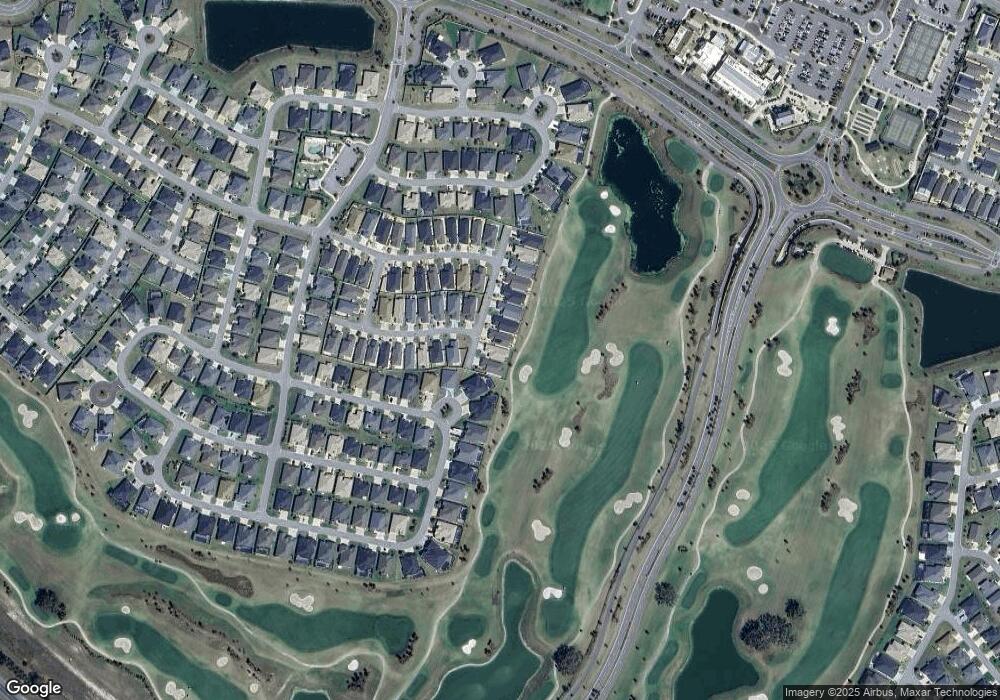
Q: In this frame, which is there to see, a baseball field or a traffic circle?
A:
traffic circle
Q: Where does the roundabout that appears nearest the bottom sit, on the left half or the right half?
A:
right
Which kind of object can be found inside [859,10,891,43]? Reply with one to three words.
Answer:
roundabout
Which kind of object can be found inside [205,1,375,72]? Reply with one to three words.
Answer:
pond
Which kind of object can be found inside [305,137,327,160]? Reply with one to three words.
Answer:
swimming pool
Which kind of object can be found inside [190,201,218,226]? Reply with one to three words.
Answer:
house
